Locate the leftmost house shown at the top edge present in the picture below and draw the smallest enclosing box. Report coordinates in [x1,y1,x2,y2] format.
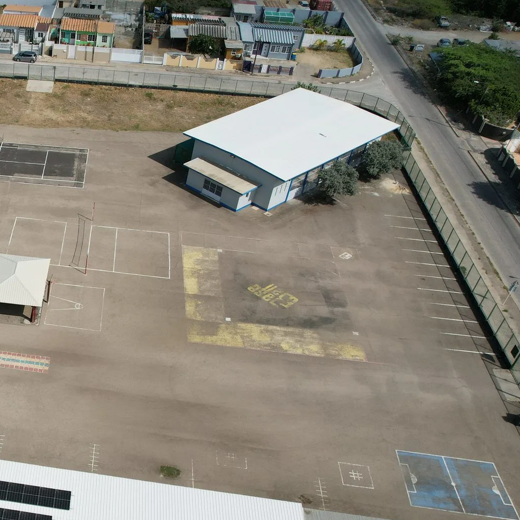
[0,4,56,46]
